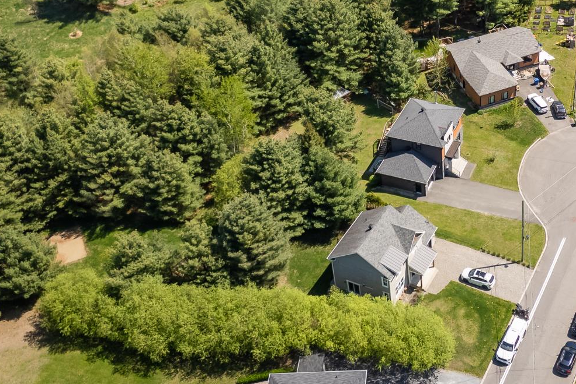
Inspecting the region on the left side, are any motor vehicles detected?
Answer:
No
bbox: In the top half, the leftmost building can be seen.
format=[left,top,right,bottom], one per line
[368,97,469,196]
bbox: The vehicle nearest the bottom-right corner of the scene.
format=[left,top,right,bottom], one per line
[554,340,576,379]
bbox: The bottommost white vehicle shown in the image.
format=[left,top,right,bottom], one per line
[496,318,530,366]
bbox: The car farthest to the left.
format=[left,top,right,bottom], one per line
[460,268,497,292]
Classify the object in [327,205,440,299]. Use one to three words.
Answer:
house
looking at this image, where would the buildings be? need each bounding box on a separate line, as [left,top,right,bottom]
[267,354,366,384]
[448,26,541,108]
[327,205,440,299]
[368,97,469,196]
